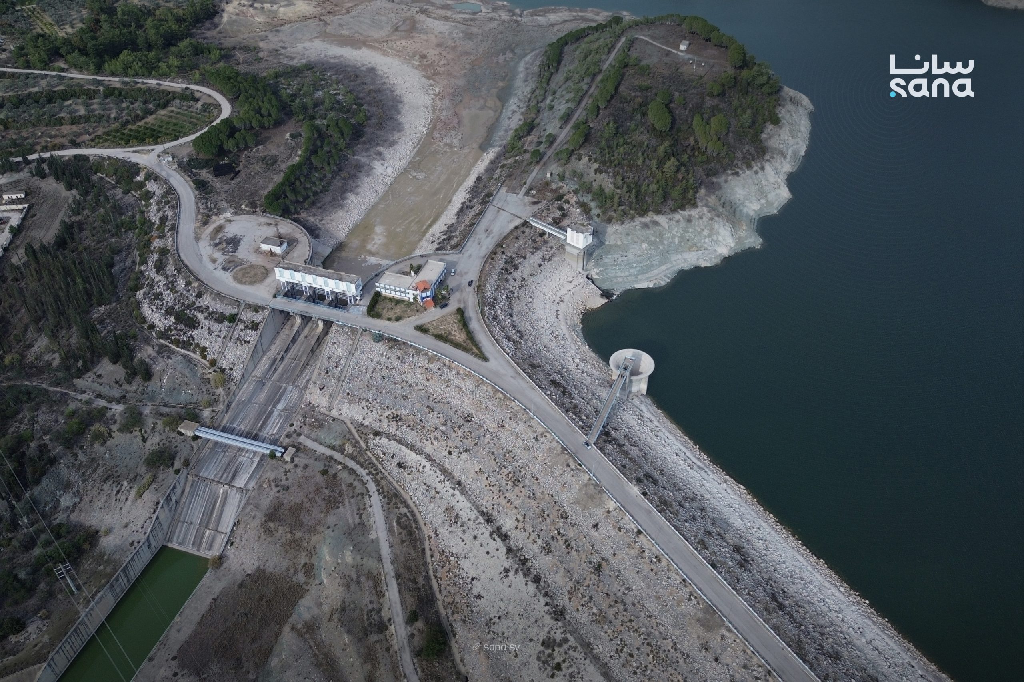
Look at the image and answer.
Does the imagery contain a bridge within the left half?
Yes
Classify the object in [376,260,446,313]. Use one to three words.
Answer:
building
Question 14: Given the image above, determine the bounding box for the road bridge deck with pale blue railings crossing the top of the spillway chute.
[265,297,346,338]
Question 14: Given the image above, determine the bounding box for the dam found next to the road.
[303,199,823,682]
